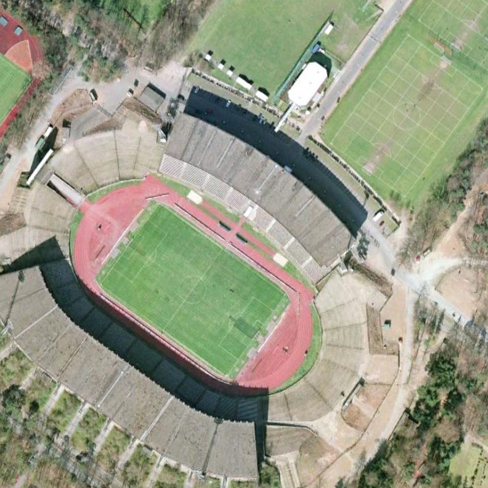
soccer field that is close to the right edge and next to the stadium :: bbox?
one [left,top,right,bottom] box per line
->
[332,35,482,197]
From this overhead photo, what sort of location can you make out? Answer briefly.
sports ground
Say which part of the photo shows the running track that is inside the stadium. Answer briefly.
center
